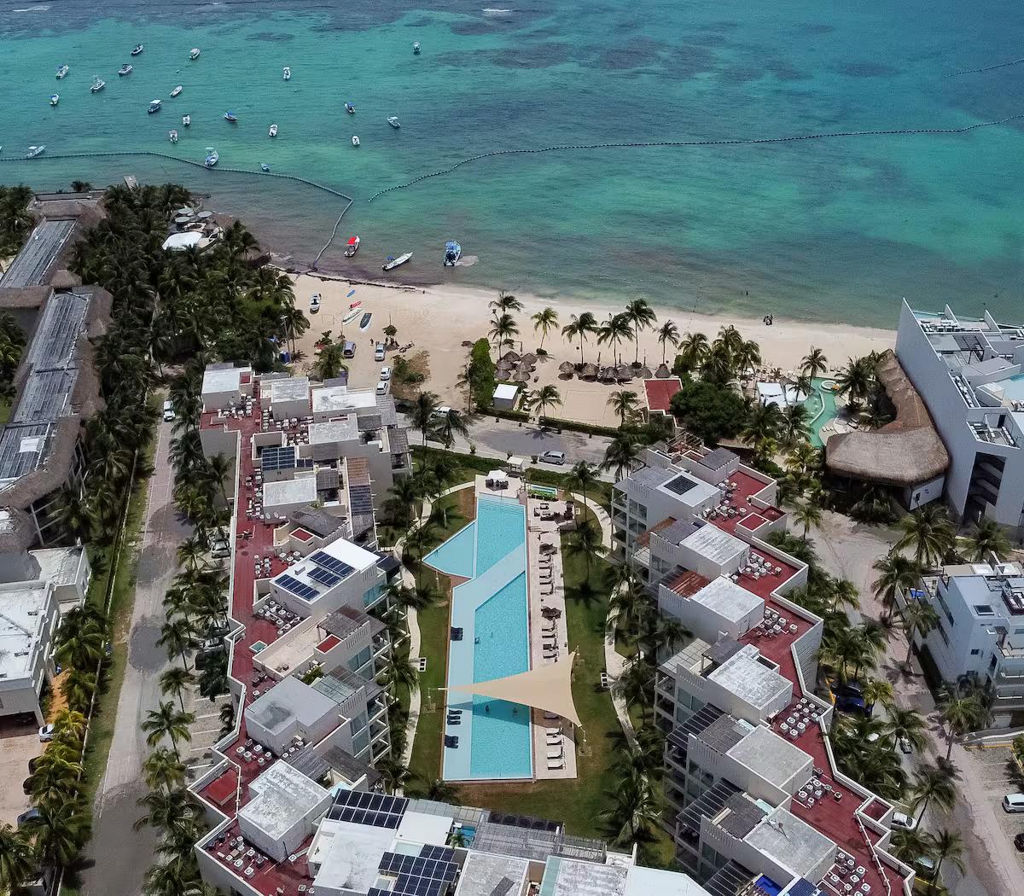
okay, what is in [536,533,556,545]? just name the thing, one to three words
umbrella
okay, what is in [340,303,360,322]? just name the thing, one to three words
boat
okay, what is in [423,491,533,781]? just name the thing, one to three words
swimming pool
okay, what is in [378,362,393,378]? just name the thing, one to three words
car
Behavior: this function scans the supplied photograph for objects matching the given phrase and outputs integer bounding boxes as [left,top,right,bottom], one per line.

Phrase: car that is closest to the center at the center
[537,447,567,461]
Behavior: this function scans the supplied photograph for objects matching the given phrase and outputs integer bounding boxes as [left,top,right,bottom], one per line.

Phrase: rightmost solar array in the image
[665,476,698,495]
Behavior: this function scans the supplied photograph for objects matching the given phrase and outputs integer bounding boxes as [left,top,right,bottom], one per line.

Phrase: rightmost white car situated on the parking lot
[1002,789,1024,811]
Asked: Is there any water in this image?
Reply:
Yes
